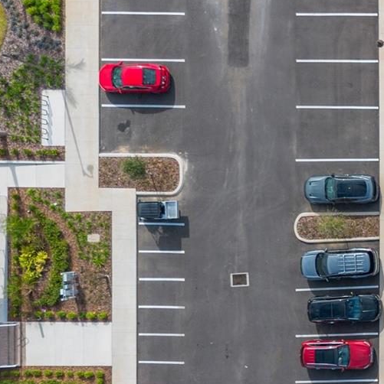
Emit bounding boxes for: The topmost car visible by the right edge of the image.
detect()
[306,172,379,207]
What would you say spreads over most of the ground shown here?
paved ground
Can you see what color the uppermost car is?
red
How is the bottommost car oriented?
horizontally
